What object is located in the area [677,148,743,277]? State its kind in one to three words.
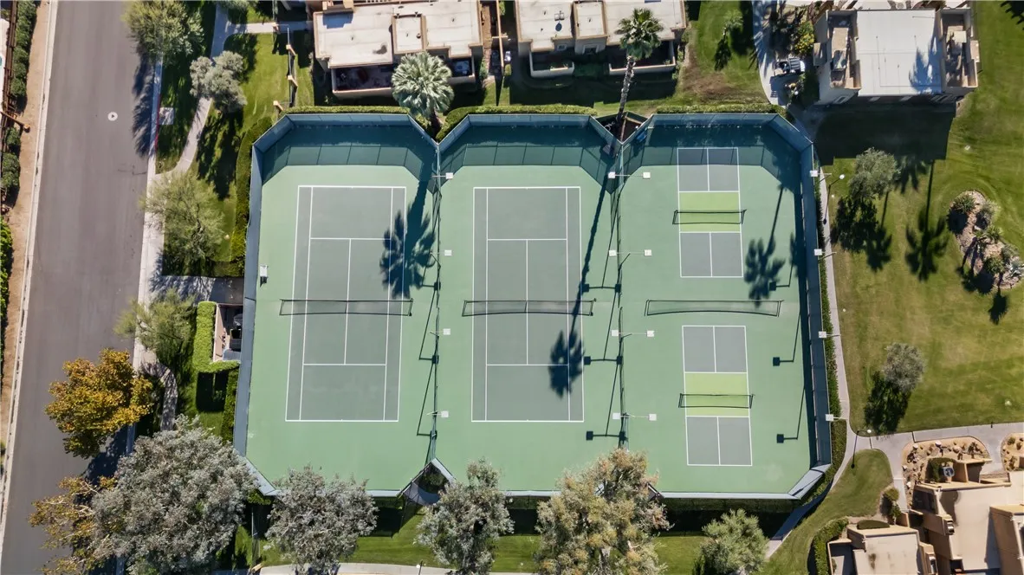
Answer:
sports court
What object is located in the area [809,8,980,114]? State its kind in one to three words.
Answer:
house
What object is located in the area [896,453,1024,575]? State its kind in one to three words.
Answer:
house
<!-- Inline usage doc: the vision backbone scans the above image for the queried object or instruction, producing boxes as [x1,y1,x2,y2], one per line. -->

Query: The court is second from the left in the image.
[439,126,621,491]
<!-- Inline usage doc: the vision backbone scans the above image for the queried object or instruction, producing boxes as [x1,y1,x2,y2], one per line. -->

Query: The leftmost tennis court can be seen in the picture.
[247,126,442,492]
